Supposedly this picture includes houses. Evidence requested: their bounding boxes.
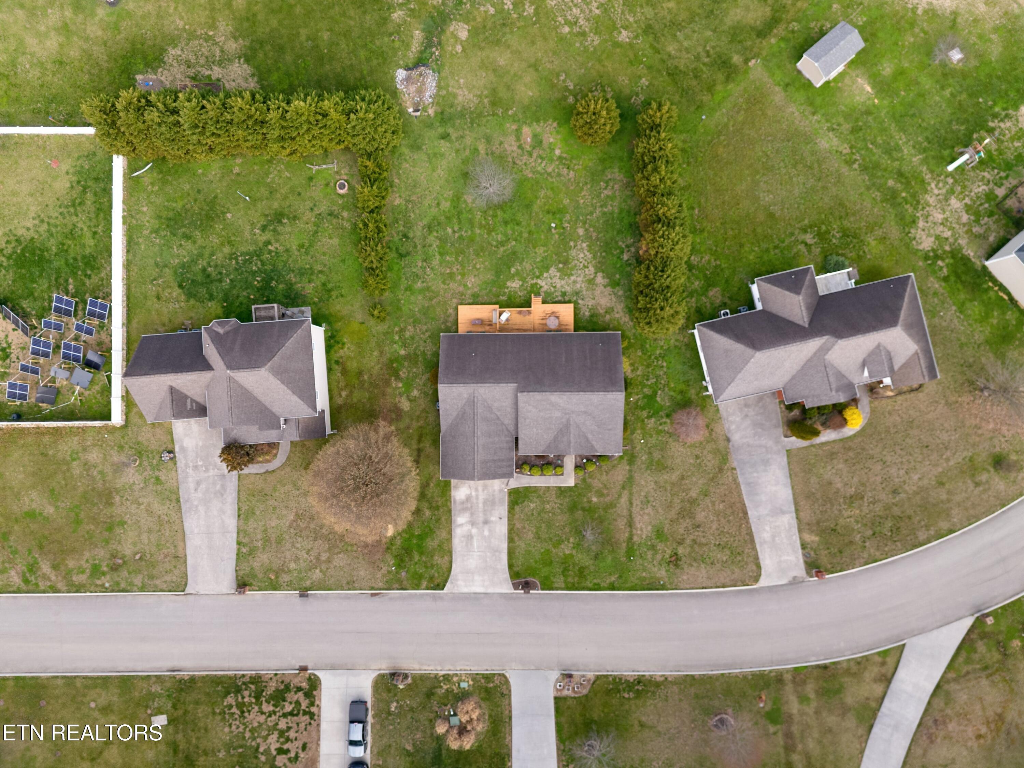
[979,230,1024,308]
[686,265,940,408]
[122,318,339,446]
[438,331,625,481]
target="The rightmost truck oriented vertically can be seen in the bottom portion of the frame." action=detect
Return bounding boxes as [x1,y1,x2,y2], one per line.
[343,699,369,760]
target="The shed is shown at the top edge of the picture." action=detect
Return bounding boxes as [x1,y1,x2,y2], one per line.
[795,21,865,87]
